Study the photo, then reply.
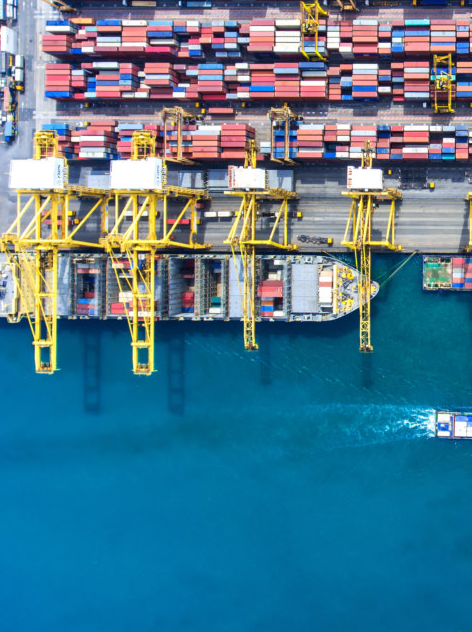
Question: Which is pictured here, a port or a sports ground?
port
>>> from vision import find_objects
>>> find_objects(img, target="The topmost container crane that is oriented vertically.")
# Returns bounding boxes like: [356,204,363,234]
[299,0,330,66]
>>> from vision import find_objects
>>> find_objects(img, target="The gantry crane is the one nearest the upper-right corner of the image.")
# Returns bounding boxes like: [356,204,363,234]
[430,52,455,115]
